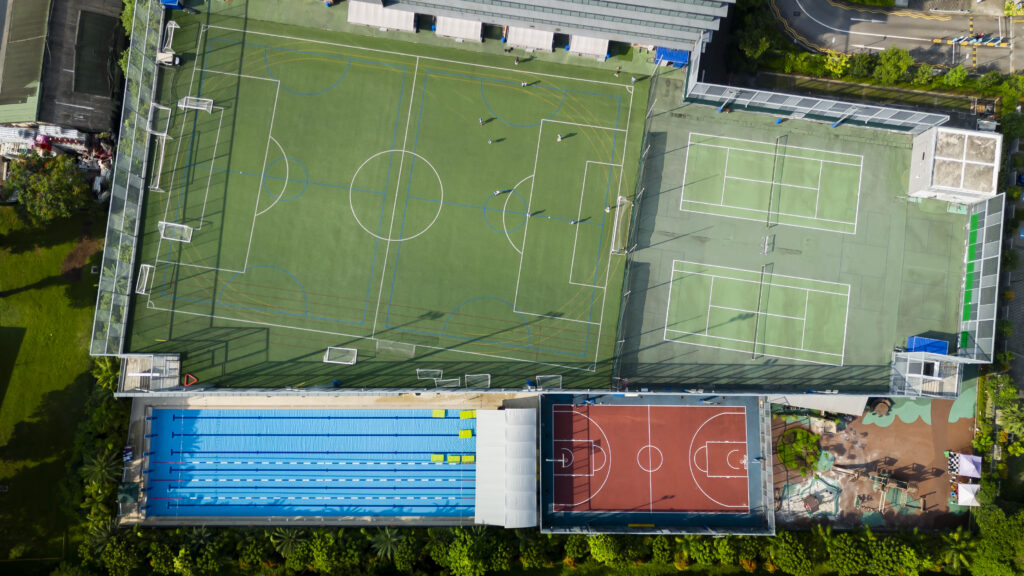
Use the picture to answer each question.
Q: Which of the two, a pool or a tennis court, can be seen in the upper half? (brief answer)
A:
tennis court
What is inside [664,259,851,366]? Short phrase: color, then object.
green tennis court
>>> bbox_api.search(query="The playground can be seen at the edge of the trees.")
[772,378,977,529]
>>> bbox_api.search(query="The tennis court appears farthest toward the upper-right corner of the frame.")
[680,132,864,235]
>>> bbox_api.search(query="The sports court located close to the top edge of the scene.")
[56,10,118,110]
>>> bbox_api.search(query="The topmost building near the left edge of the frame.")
[0,0,56,132]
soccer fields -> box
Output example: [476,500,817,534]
[122,0,651,392]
